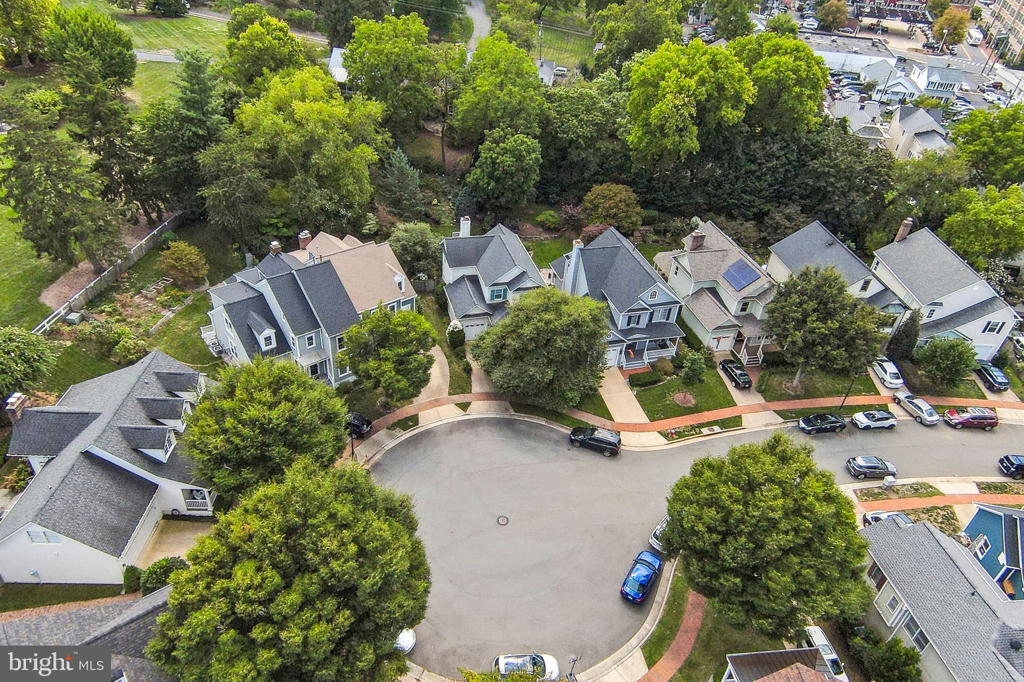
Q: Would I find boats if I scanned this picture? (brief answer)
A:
No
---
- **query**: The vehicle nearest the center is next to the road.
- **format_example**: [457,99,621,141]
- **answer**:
[568,425,625,458]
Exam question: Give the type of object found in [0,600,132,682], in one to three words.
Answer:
house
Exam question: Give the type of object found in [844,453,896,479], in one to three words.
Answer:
car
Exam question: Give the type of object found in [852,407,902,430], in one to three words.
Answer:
car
